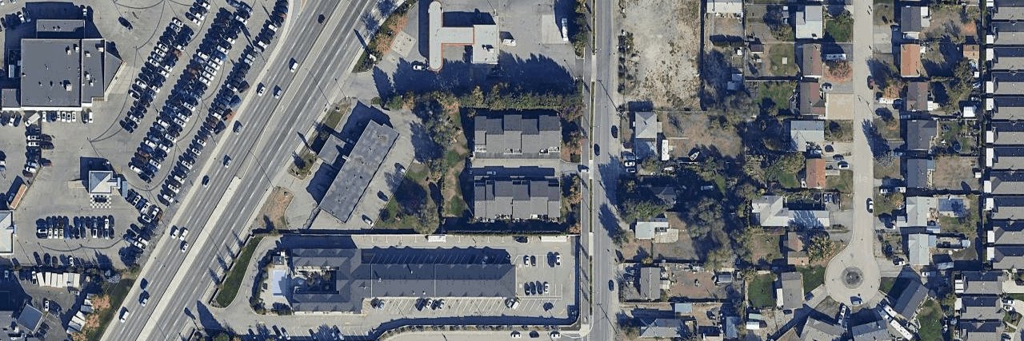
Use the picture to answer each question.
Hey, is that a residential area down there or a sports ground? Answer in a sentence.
This image shows a residential area.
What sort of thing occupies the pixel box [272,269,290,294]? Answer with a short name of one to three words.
swimming pool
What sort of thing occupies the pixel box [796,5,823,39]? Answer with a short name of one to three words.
house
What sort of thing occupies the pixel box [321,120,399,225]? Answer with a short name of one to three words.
building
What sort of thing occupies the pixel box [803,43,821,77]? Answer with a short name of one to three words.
house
